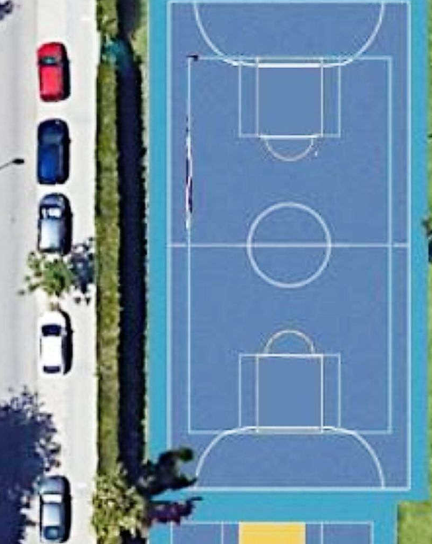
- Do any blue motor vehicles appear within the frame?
Yes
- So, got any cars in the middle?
No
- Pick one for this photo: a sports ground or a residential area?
sports ground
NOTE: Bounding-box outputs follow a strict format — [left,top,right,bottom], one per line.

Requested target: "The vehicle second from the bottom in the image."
[38,312,66,374]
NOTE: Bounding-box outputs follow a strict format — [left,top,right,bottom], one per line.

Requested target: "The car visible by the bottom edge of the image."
[38,477,66,543]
